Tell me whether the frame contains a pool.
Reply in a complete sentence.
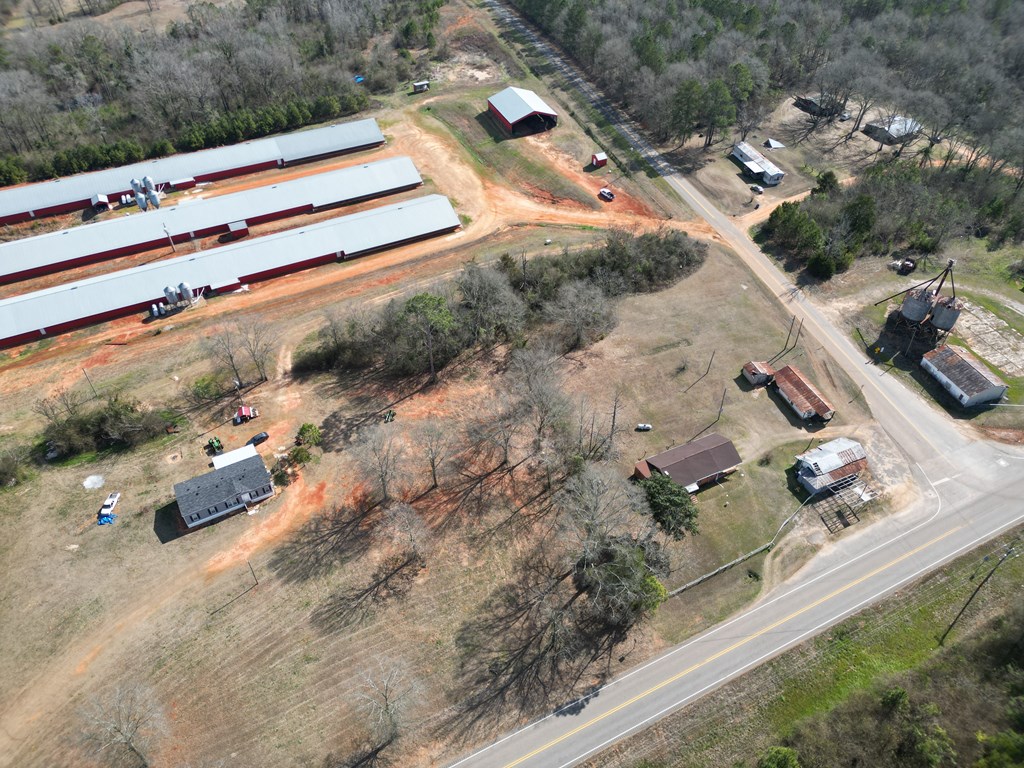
No, the picture doesn't show any pool.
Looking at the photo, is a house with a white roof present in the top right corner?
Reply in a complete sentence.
Yes, a house with a white roof appears in the top right corner.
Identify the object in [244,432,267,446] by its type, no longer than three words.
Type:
car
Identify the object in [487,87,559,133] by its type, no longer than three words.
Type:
barn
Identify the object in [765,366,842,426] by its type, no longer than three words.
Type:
shed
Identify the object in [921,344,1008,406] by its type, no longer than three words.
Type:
building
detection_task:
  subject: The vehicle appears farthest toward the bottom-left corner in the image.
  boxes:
[95,490,120,516]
